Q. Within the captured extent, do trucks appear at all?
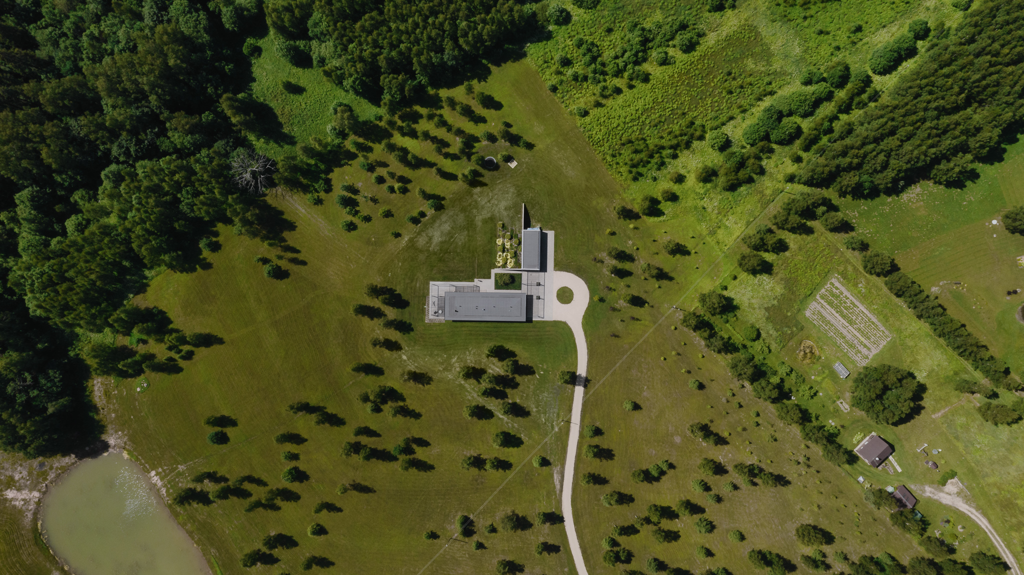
No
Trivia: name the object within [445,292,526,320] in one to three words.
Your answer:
house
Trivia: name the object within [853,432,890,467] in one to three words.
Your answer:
house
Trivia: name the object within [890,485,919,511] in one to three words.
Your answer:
building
